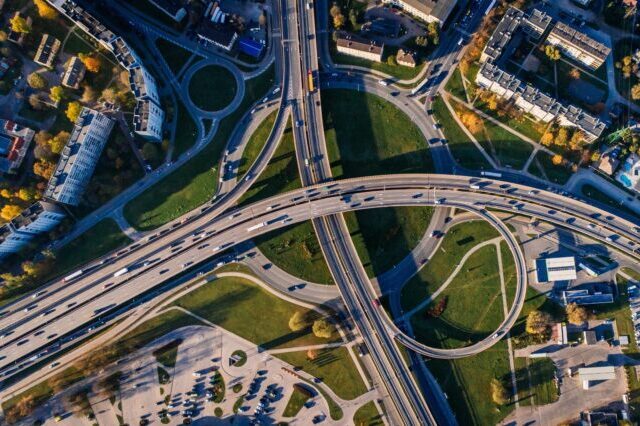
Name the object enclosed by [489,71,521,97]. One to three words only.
building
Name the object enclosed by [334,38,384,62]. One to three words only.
house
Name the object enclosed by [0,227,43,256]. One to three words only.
building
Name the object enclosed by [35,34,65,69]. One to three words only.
house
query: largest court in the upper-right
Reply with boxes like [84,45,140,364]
[568,78,606,105]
